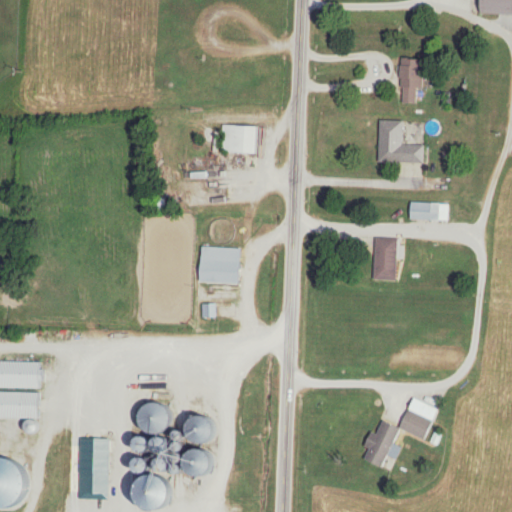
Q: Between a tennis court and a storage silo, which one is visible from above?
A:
storage silo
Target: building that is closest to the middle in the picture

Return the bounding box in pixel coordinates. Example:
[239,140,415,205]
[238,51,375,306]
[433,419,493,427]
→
[199,246,243,285]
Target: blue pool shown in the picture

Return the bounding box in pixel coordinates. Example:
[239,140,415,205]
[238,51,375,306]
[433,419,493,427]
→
[426,120,440,135]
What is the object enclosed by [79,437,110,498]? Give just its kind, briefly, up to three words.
shed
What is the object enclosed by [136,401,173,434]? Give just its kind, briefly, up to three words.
silo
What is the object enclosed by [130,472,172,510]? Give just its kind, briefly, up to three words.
silo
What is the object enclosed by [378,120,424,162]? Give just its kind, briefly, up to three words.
house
